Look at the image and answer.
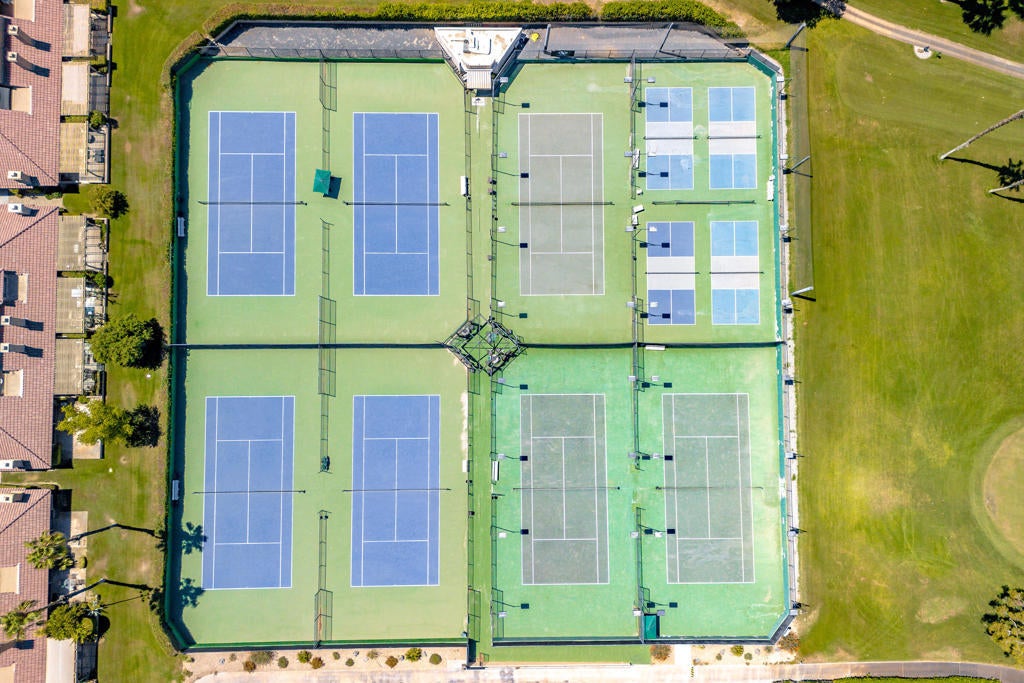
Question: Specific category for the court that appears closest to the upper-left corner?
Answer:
tennis court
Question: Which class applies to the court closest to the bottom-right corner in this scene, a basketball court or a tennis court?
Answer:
tennis court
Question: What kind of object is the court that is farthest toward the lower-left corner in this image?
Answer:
tennis court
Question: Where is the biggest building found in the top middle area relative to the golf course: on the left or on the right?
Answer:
on its left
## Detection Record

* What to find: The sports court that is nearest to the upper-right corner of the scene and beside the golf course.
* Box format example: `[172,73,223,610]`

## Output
[708,87,757,189]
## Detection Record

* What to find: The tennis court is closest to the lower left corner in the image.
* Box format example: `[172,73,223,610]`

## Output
[202,396,295,590]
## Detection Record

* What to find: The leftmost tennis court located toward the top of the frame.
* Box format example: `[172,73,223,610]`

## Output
[207,111,296,296]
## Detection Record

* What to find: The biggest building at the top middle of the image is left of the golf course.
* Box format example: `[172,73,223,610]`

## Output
[434,27,522,79]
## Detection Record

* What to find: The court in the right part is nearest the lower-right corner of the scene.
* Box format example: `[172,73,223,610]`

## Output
[662,394,755,584]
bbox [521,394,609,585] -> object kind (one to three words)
tennis court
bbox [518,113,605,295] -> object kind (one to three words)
tennis court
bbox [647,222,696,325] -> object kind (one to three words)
sports court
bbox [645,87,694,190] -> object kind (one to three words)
sports court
